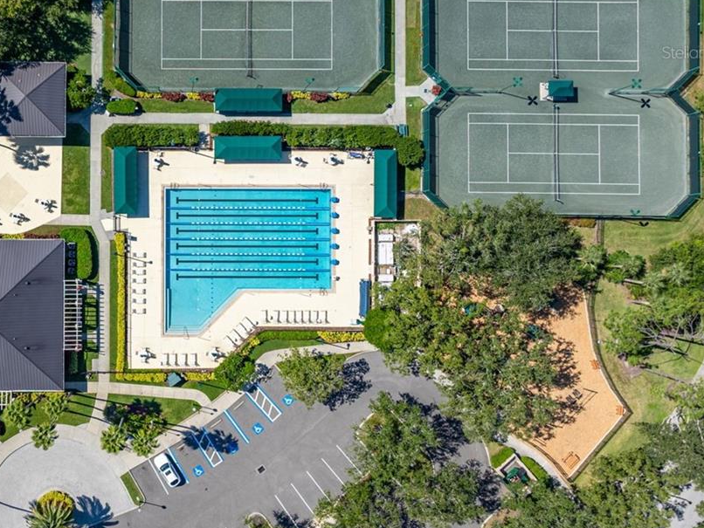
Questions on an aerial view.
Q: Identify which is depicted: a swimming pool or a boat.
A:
swimming pool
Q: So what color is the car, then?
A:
white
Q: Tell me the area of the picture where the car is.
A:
bottom left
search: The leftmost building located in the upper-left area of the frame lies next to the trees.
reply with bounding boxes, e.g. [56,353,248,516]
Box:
[0,61,68,137]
